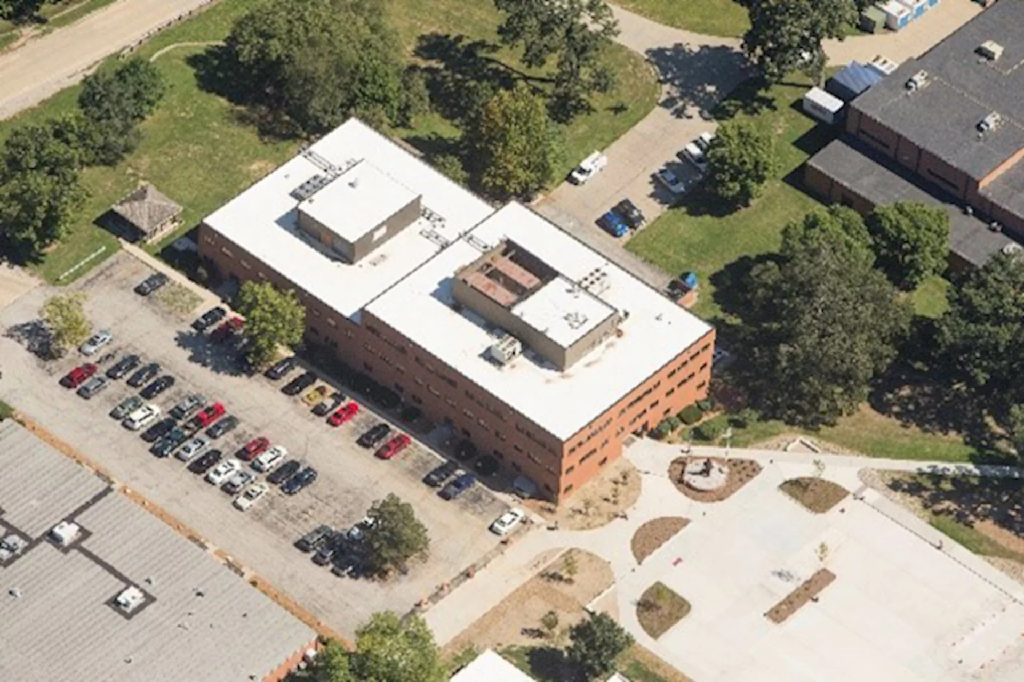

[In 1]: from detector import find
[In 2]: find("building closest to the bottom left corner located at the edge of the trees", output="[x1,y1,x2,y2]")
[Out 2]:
[0,409,319,682]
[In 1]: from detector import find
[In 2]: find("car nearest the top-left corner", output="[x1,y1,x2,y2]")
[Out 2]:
[133,272,168,298]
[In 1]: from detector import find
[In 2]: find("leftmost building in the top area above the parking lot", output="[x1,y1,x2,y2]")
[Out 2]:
[110,184,183,245]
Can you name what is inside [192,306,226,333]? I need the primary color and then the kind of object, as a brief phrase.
black car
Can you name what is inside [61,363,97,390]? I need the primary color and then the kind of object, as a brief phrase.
red car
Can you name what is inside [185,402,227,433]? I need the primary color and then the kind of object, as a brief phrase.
red truck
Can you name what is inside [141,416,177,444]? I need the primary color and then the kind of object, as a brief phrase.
black car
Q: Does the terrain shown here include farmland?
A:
No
